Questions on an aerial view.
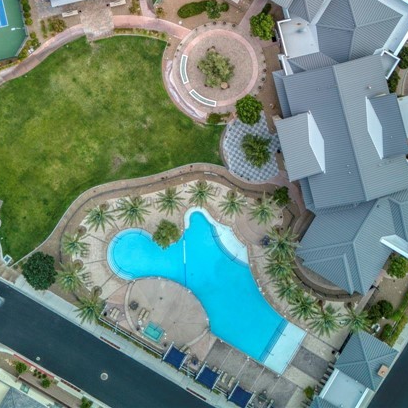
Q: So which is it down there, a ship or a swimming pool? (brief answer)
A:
swimming pool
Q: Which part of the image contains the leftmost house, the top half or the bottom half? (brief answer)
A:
bottom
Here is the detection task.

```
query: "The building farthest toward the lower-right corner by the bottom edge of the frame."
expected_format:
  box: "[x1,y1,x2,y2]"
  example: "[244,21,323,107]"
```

[300,328,399,408]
